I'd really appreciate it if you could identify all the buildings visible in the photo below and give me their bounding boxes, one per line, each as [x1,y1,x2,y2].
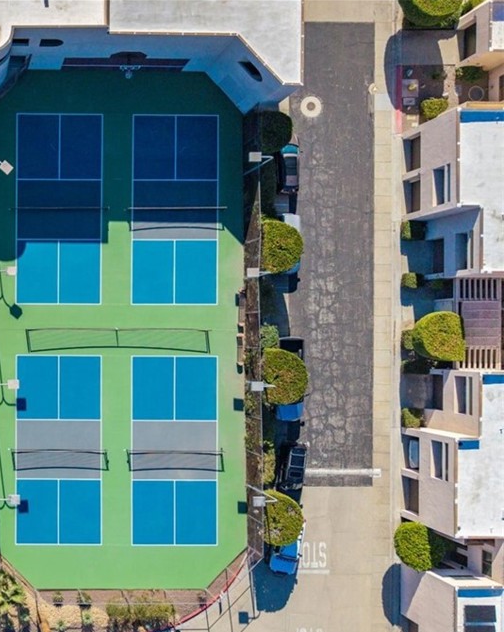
[402,370,504,537]
[0,0,303,115]
[457,4,504,102]
[402,111,504,280]
[402,540,504,632]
